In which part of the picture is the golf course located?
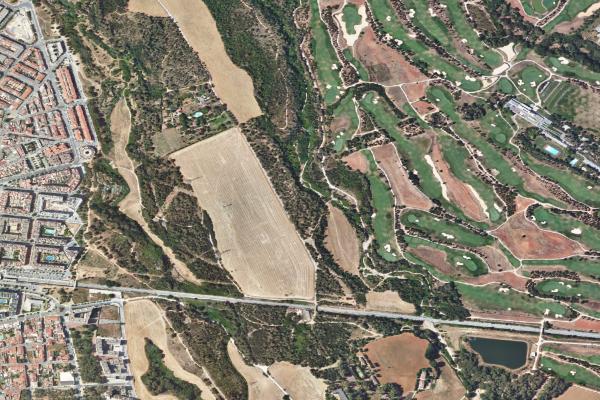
right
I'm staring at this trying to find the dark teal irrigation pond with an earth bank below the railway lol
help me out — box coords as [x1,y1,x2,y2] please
[465,333,530,372]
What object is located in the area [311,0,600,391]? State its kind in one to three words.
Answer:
golf course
